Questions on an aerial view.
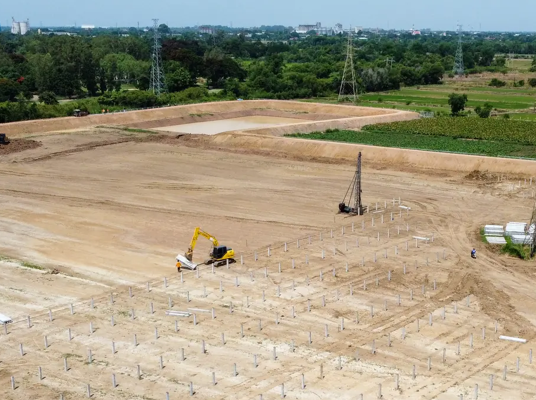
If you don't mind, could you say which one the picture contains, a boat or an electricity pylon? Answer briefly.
electricity pylon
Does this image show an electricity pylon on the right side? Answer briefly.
Yes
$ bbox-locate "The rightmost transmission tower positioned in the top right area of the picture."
[450,21,467,76]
